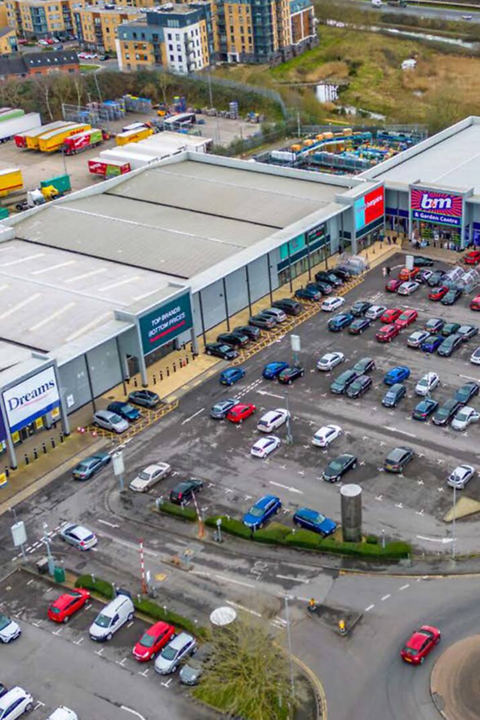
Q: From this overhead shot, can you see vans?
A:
Yes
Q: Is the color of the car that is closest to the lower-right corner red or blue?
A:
red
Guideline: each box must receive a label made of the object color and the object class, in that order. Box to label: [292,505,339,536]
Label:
blue car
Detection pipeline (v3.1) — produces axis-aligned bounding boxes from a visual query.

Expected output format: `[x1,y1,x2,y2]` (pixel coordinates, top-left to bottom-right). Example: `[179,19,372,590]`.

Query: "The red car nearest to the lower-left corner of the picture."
[46,587,93,625]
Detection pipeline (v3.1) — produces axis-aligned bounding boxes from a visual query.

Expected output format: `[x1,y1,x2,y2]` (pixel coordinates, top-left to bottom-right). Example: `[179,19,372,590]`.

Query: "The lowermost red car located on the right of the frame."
[400,625,441,667]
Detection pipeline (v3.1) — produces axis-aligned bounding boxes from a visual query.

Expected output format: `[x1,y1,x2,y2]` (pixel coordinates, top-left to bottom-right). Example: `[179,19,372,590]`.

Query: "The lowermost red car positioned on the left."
[132,621,175,661]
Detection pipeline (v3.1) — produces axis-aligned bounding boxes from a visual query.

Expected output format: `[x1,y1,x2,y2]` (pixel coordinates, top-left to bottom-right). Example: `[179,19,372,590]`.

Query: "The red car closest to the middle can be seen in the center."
[226,403,256,424]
